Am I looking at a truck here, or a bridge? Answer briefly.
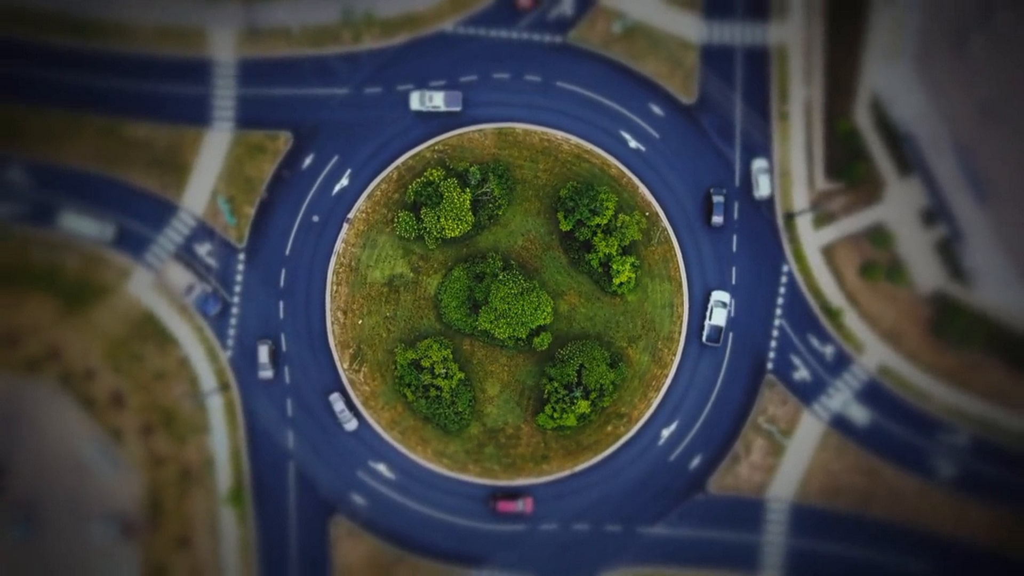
truck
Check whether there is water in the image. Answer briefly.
No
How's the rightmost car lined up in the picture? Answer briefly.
diagonally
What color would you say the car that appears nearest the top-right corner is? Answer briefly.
white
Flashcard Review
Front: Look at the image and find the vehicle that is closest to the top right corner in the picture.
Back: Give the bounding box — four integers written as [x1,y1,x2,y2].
[748,157,773,202]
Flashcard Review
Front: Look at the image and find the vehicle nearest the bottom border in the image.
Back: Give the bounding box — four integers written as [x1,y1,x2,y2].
[491,493,534,516]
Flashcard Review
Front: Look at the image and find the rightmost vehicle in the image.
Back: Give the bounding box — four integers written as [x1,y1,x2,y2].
[827,391,872,428]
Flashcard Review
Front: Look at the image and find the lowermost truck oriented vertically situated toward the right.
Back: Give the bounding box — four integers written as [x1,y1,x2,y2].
[701,290,731,348]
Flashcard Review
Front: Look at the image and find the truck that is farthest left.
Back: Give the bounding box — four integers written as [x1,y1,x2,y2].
[53,209,130,244]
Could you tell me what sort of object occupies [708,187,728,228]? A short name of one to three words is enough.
car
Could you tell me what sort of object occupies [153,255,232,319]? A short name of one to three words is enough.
truck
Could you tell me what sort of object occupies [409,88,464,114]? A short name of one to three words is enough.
truck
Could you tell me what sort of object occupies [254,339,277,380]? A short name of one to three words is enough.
car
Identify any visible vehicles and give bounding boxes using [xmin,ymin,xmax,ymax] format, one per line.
[327,390,360,433]
[254,339,277,380]
[53,209,130,244]
[708,187,728,228]
[409,88,464,114]
[827,391,872,428]
[153,255,232,319]
[701,290,731,348]
[748,157,773,202]
[491,493,534,516]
